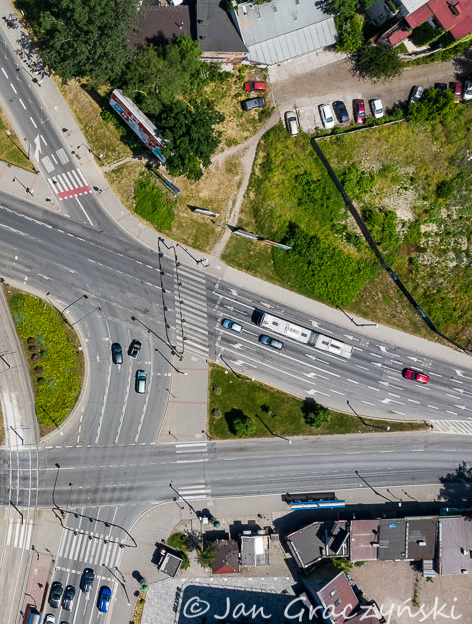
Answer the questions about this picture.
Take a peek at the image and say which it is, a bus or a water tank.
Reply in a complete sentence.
This aerial view contains a bus.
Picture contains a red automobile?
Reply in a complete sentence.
Yes, there is a red automobile in the image.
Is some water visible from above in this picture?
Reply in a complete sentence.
No, the picture contains no water.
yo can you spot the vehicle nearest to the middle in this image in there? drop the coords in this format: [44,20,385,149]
[220,318,243,333]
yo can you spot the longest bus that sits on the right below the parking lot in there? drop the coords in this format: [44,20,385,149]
[249,304,357,359]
